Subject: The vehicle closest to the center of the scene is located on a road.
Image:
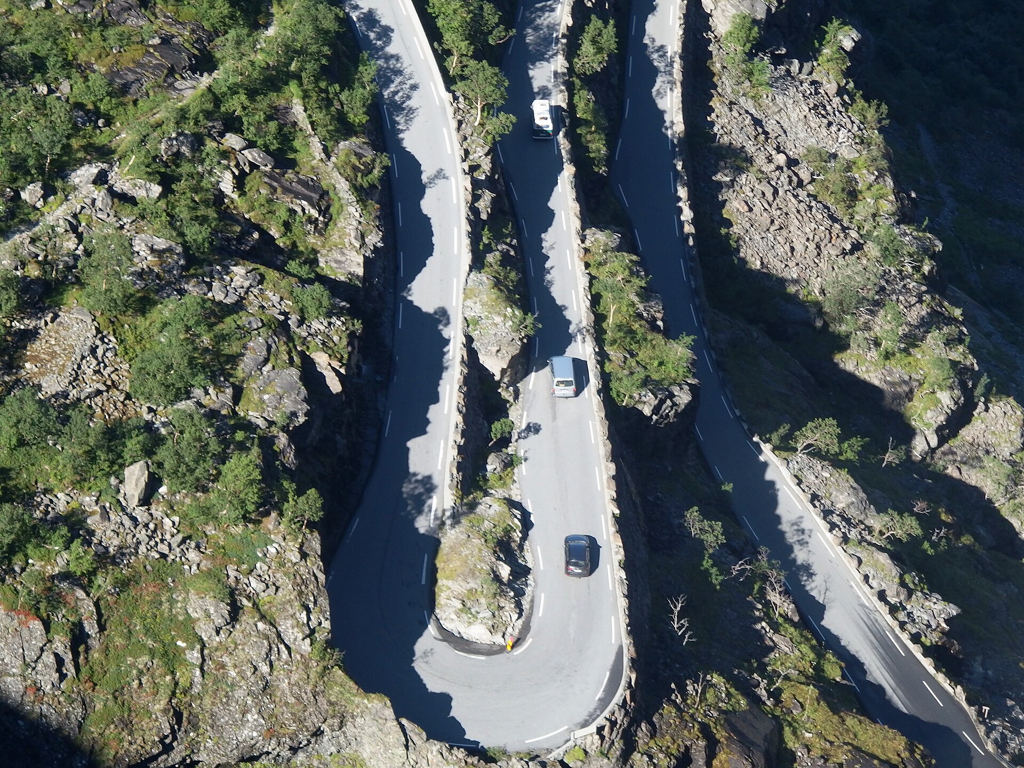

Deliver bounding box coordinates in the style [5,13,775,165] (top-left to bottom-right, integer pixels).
[547,353,576,393]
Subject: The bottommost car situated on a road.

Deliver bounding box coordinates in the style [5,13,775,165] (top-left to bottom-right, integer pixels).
[559,532,592,573]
